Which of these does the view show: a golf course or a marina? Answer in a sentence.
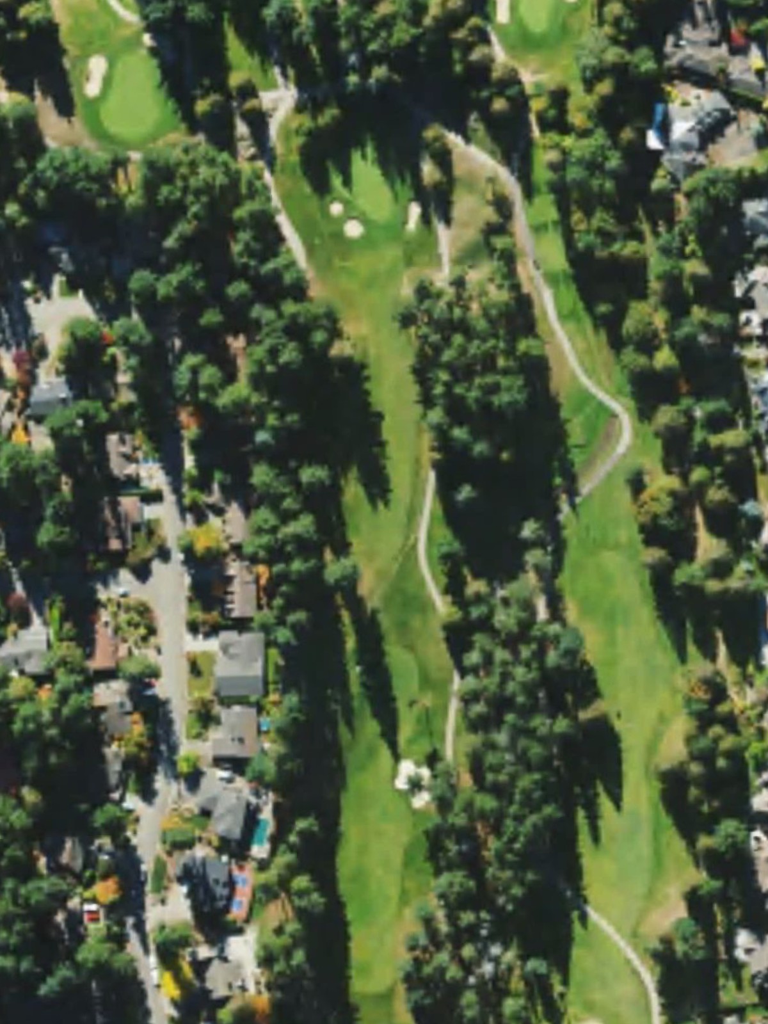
This image shows a golf course.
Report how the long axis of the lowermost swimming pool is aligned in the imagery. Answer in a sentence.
The lowermost swimming pool runs vertically in the image.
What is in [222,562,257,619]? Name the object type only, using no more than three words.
house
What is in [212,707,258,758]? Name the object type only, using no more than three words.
house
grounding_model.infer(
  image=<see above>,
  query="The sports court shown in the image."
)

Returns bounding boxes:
[231,860,254,922]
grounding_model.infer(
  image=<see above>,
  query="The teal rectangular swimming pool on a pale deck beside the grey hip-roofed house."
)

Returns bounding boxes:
[251,790,275,859]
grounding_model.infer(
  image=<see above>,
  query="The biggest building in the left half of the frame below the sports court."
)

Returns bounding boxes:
[203,959,242,999]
